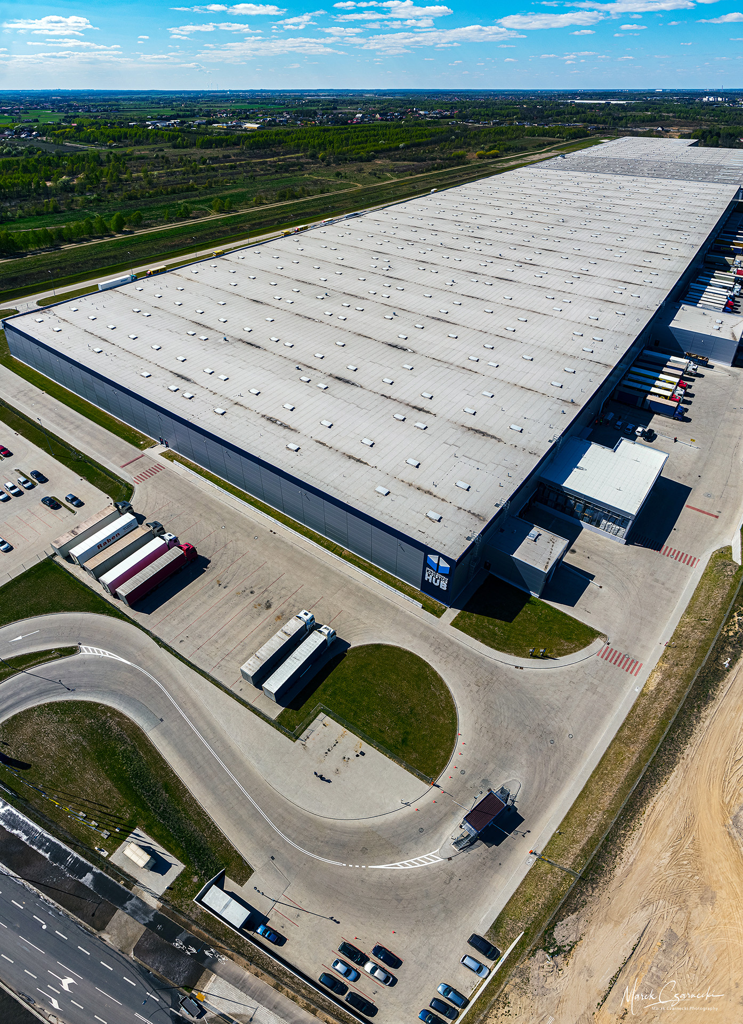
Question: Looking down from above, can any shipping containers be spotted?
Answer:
Yes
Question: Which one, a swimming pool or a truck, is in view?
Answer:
truck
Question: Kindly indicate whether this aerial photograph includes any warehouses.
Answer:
Yes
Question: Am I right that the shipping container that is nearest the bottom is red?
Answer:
No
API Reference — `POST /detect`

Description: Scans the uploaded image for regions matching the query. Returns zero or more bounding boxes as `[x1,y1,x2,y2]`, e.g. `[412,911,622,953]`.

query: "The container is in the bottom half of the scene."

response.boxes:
[123,840,155,873]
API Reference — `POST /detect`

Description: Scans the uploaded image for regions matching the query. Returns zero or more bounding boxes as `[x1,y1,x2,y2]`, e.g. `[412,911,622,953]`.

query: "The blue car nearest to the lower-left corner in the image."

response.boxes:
[258,922,283,946]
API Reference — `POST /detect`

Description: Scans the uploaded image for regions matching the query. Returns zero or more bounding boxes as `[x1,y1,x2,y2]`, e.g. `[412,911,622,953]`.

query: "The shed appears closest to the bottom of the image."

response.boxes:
[204,886,253,932]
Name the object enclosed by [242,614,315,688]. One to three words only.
truck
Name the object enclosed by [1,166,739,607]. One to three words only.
warehouse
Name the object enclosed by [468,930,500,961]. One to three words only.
car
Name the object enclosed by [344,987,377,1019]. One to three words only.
car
